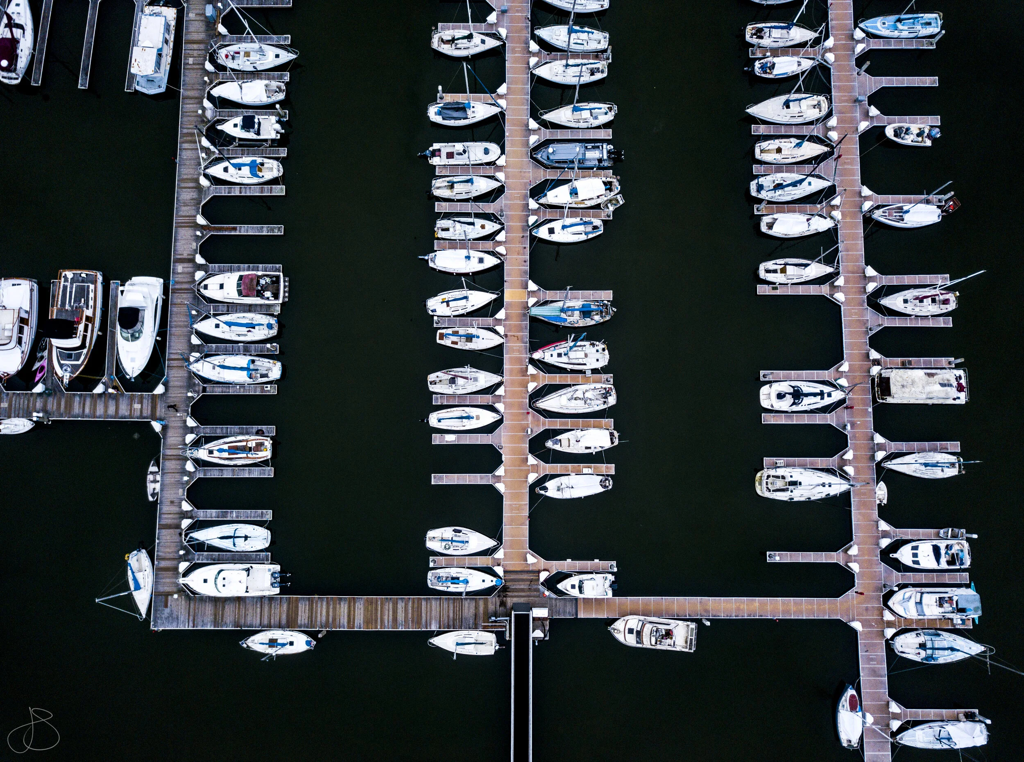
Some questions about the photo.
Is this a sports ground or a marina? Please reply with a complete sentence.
The area seen from above is a marina.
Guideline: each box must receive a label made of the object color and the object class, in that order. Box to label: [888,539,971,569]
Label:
white boat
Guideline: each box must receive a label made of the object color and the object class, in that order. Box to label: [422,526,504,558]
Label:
white boat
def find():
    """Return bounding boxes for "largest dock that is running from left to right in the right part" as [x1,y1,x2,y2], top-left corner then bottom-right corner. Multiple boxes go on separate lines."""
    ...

[578,586,859,631]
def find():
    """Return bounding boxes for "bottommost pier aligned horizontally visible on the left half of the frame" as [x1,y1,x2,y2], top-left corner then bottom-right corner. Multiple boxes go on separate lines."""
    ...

[150,571,578,640]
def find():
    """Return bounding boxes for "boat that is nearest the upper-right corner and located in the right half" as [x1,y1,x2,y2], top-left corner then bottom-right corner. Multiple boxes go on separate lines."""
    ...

[853,0,945,38]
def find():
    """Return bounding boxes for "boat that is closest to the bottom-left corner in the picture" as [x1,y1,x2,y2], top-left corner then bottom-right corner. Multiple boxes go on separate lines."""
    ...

[95,544,159,621]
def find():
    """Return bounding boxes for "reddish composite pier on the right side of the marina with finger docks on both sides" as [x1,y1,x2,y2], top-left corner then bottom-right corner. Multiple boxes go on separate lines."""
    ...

[748,0,979,762]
